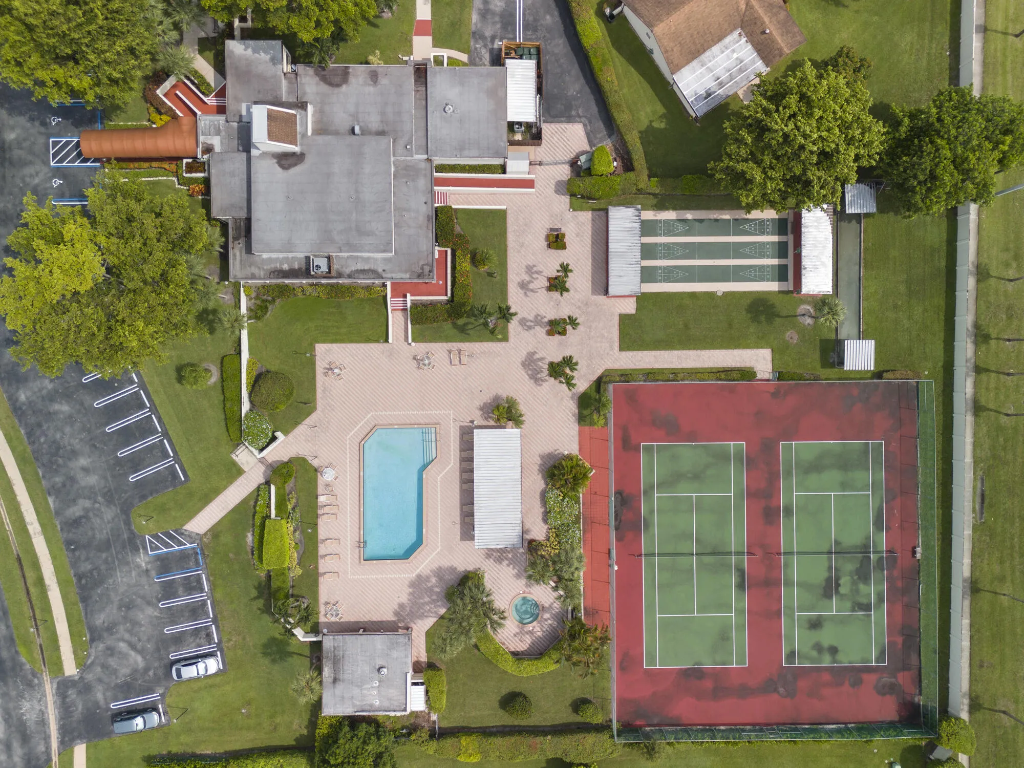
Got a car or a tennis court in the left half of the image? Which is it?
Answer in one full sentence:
The one visible in the left half of the image is a car.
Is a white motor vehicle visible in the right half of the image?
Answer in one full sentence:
No, looking in the right half of the image, there is no white motor vehicle.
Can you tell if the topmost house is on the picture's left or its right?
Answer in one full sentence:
It is on the right.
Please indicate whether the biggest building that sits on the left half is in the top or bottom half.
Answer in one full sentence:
The biggest building that sits on the left half sits in the top half of the picture.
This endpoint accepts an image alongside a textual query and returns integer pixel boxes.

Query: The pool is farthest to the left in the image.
[357,424,440,563]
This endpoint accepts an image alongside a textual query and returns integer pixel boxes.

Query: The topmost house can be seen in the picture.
[626,0,807,124]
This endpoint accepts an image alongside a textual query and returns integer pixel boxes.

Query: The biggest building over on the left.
[198,40,507,286]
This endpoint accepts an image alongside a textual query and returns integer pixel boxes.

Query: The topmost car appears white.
[168,654,217,680]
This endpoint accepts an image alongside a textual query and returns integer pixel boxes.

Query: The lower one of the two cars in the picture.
[109,706,162,735]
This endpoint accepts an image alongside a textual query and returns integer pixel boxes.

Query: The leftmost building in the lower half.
[323,620,417,715]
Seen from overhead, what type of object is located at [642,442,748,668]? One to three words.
tennis court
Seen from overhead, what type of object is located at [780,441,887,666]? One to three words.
tennis court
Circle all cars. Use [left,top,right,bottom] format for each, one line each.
[168,654,217,680]
[109,706,162,735]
